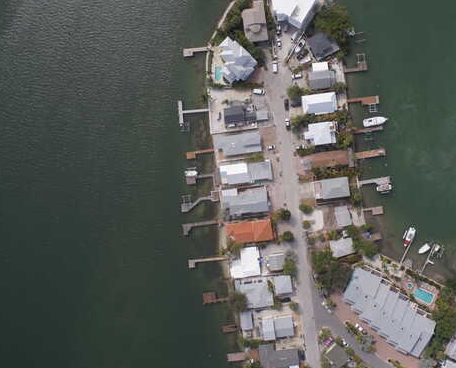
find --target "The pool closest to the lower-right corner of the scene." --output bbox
[413,284,435,307]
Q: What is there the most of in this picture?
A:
water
